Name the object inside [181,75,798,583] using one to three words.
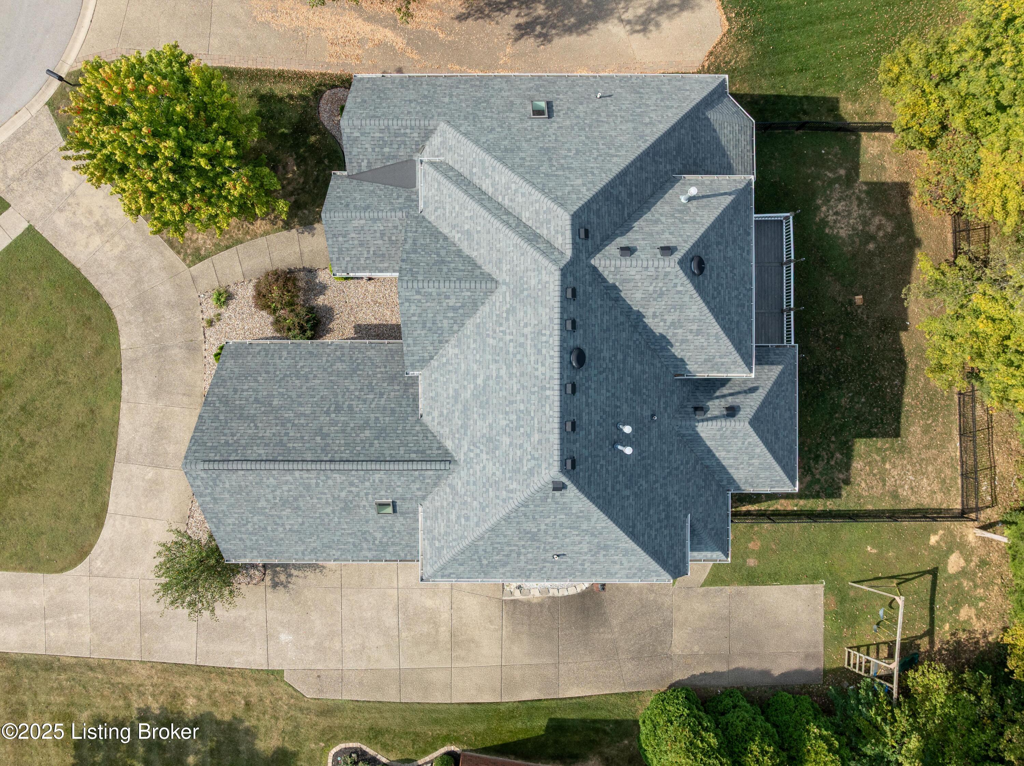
house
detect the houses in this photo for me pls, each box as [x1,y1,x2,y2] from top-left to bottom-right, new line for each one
[181,75,798,583]
[459,751,561,766]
